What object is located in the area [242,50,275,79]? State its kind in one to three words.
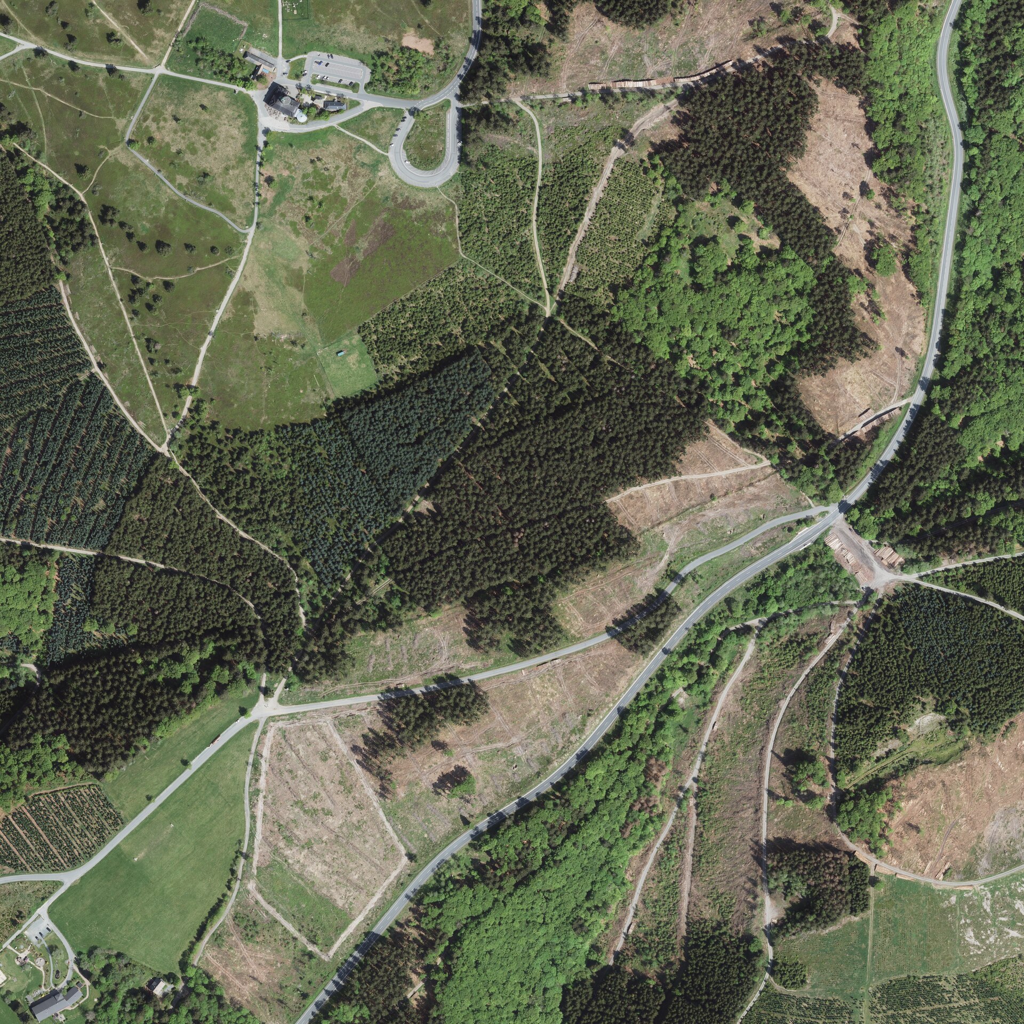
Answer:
barn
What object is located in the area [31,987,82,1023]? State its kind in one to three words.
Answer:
building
